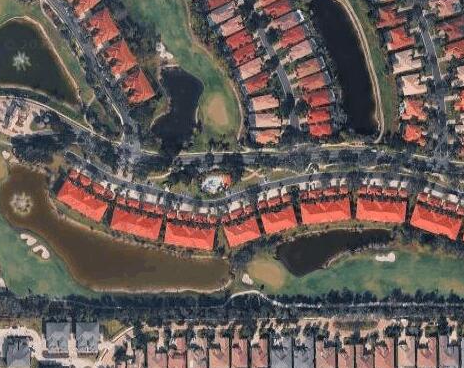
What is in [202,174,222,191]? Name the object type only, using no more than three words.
swimming pool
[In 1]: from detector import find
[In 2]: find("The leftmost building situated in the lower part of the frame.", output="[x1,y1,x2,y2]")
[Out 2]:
[6,337,29,368]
